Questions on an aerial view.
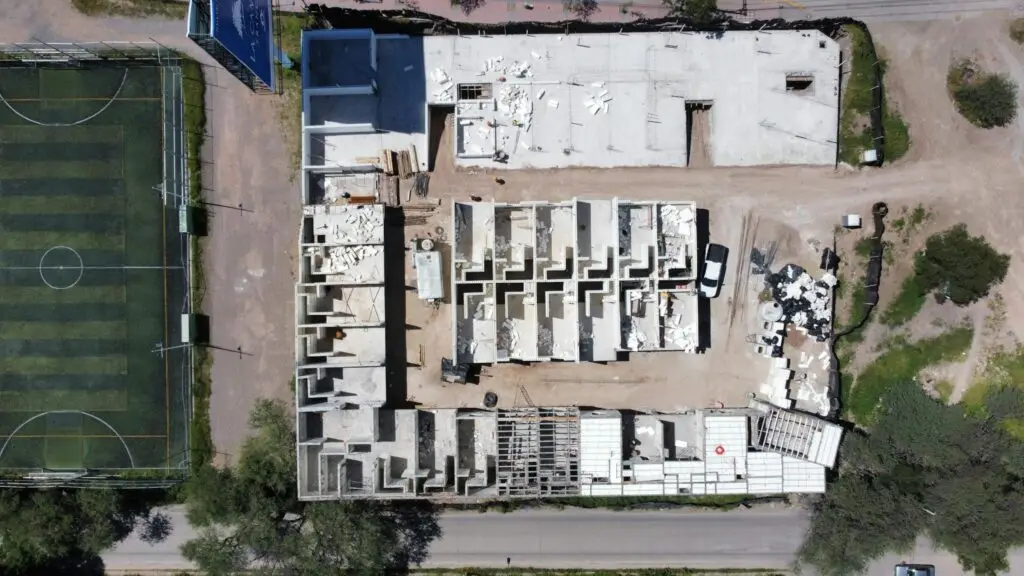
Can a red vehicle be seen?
No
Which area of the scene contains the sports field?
left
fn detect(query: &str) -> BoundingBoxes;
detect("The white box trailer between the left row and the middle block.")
[413,251,444,312]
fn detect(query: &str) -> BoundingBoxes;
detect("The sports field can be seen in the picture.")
[0,66,188,469]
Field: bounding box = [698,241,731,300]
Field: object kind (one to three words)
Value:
truck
